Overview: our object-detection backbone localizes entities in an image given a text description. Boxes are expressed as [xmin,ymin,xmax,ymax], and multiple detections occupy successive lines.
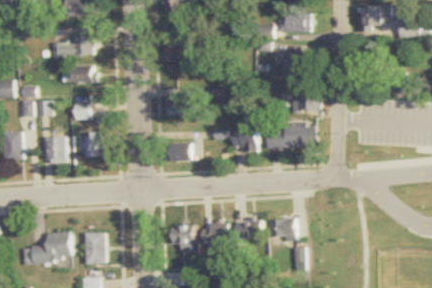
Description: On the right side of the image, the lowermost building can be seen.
[295,246,309,272]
